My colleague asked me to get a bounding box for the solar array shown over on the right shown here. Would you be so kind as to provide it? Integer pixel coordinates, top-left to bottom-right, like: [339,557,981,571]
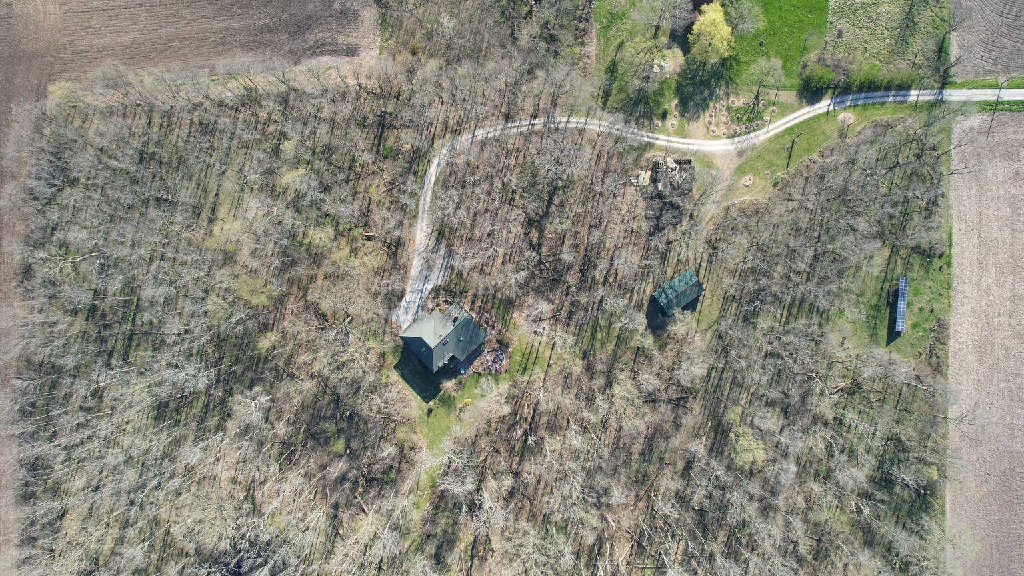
[894,277,908,331]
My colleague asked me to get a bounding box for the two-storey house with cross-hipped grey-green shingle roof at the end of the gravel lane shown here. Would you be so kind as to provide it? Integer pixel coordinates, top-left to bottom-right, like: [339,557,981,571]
[399,302,485,372]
